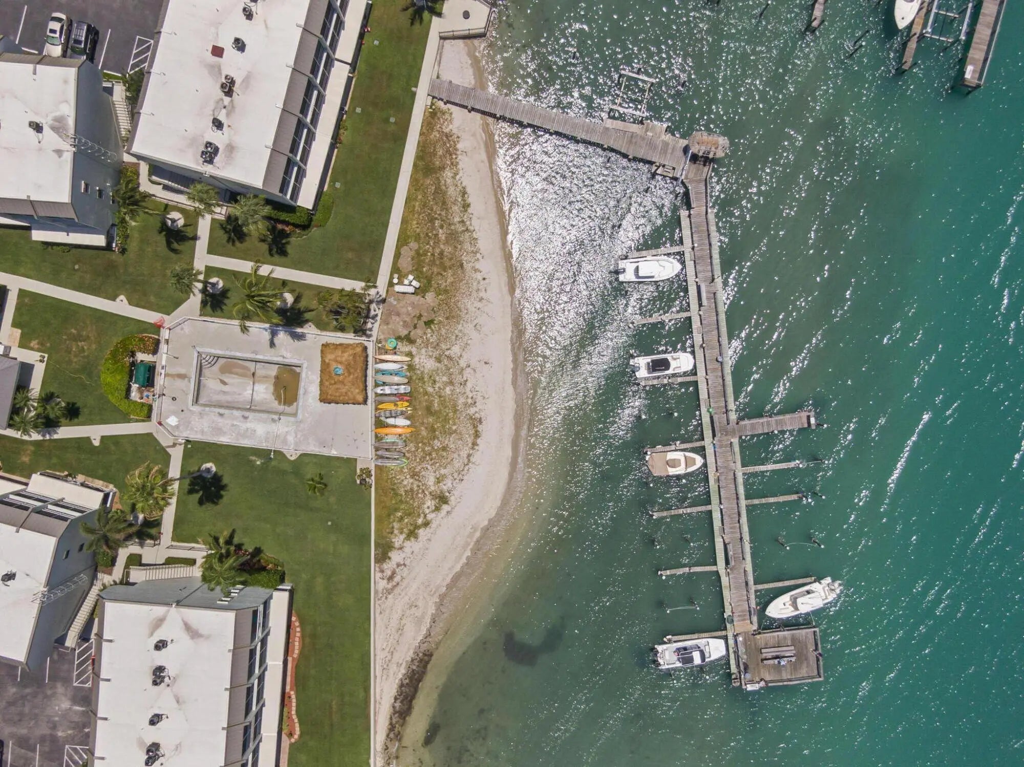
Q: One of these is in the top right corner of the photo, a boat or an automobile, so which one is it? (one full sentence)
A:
It is a boat that can be seen in the top right corner of the photo.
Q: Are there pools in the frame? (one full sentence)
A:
Yes, the photo shows a pool.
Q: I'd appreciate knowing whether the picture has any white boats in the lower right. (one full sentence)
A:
Yes, the scene does show a white boat in the lower right.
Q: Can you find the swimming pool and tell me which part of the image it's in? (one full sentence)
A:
The swimming pool is located in the left region of the scene.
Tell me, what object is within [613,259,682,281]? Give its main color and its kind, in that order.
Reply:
white boat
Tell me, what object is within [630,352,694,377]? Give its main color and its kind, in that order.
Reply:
white boat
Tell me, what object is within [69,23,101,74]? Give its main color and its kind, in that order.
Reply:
black car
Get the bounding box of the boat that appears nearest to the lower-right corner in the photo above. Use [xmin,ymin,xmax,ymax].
[763,576,845,614]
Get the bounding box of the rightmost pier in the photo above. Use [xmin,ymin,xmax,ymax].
[955,0,1006,91]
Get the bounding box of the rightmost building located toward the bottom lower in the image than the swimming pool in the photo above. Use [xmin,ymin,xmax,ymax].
[88,560,294,767]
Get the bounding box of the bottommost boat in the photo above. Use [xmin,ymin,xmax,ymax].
[649,637,726,668]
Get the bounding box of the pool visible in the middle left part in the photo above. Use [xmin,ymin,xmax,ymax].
[158,318,372,459]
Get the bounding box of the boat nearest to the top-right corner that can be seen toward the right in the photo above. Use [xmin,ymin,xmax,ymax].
[887,0,921,36]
